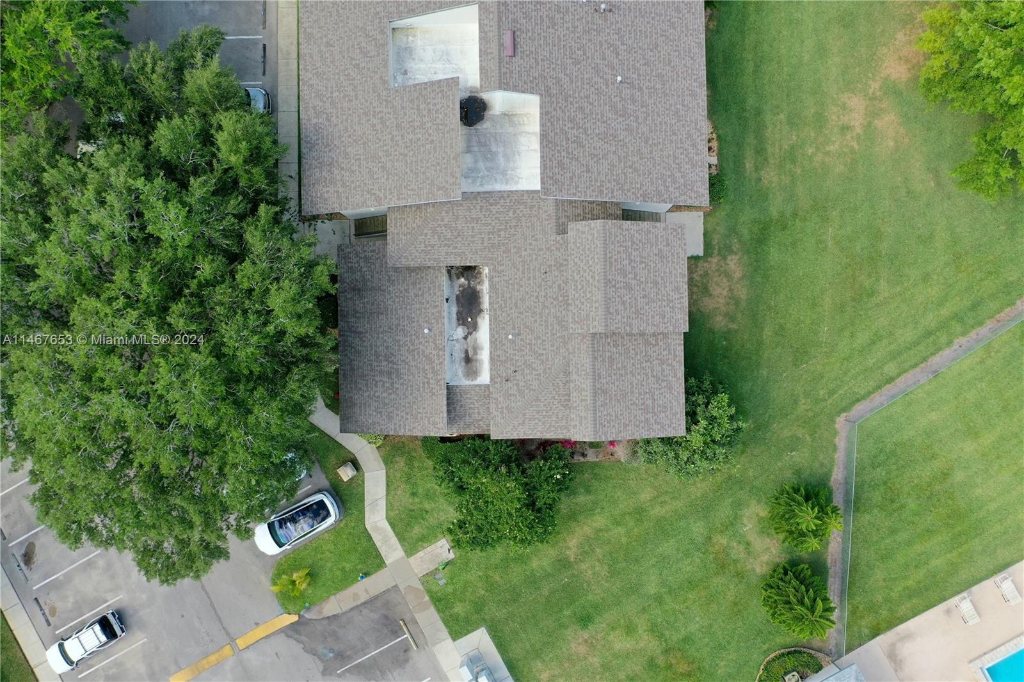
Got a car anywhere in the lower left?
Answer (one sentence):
Yes, a car can be seen in the lower left.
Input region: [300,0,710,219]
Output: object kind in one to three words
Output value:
building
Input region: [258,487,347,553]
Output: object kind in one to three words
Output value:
car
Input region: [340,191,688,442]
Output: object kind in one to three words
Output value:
building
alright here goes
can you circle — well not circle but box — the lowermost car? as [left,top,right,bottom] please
[48,606,132,671]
